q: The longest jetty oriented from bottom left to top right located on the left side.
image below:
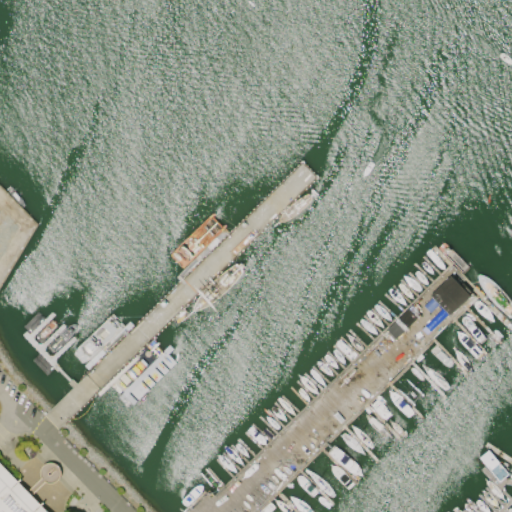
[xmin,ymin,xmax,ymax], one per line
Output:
[46,163,318,428]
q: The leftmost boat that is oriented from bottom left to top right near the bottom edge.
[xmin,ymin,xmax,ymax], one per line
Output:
[181,487,204,508]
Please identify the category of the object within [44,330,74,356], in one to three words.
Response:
boat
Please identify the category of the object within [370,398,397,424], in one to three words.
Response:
boat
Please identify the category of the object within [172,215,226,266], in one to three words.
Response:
ship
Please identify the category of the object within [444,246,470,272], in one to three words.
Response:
ship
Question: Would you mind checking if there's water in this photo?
Yes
